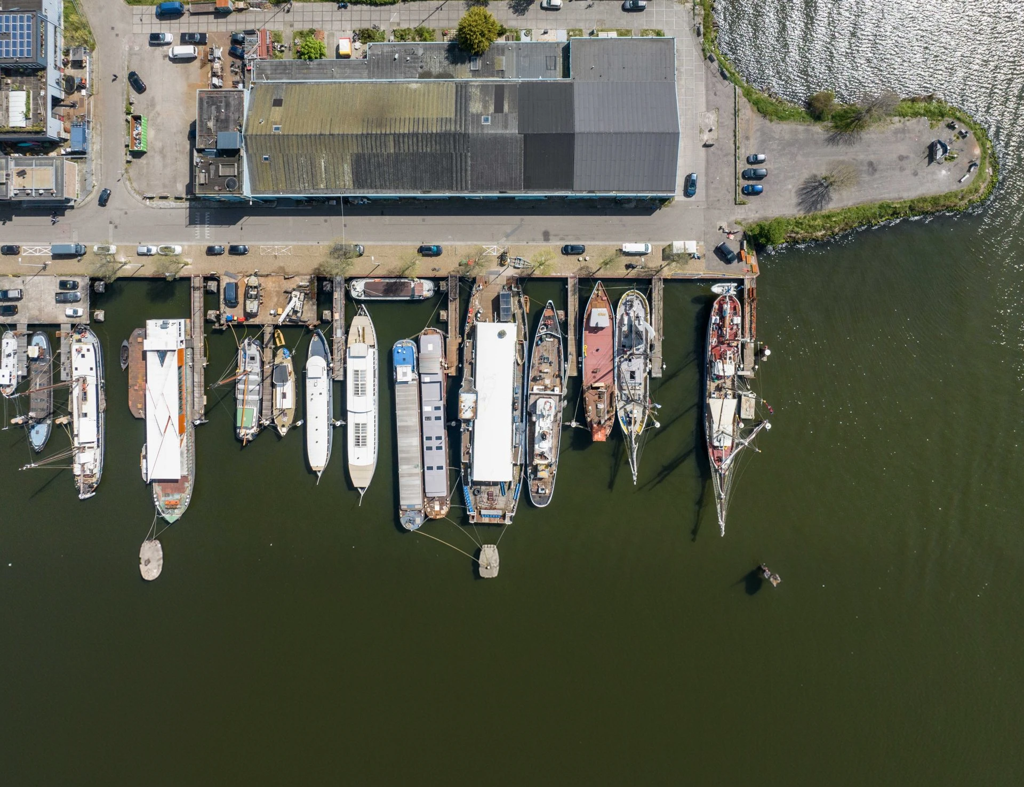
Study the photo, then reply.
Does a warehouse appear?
Yes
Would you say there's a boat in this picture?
Yes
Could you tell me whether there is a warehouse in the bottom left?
No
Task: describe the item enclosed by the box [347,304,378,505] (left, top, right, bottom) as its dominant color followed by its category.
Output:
white vessel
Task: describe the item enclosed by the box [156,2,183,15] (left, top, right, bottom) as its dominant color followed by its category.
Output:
blue vehicle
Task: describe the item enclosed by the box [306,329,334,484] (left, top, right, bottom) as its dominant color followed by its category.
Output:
white boat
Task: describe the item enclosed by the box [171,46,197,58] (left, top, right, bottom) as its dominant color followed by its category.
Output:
white vehicle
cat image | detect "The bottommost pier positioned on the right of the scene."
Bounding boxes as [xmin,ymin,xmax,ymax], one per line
[739,392,755,419]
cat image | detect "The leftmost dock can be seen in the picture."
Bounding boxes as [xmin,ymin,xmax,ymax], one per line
[17,323,30,374]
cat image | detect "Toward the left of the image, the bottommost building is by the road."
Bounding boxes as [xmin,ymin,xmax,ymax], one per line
[0,156,85,204]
